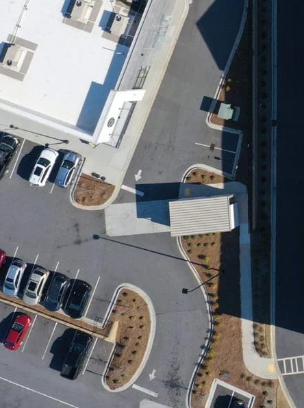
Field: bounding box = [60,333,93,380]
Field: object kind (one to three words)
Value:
truck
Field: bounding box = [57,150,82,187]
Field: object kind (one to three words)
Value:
car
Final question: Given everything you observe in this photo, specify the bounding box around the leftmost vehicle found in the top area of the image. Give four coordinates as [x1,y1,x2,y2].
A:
[0,135,20,182]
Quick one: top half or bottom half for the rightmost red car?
bottom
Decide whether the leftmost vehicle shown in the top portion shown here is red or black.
black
